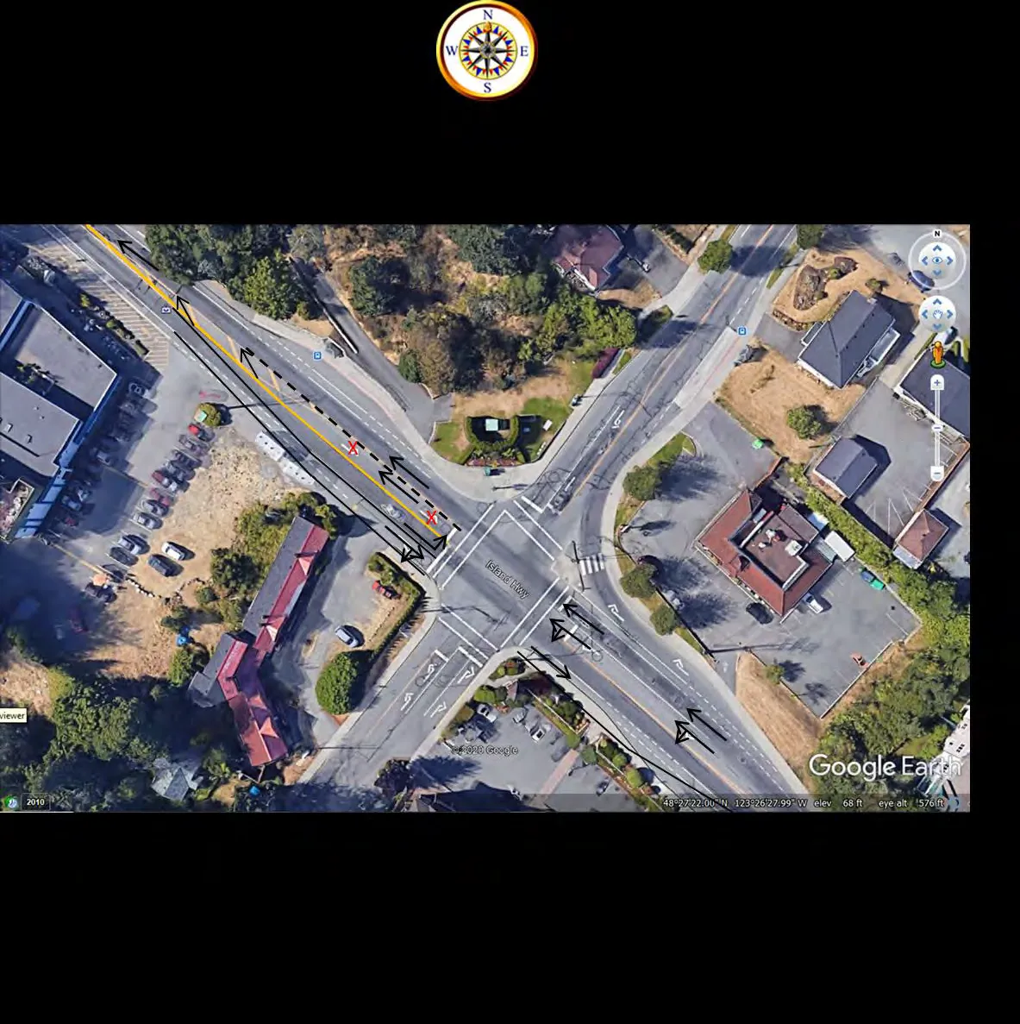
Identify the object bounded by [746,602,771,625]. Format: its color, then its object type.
black car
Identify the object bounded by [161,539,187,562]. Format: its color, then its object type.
white car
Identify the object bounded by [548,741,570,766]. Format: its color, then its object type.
gray car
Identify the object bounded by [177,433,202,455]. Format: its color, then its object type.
gray car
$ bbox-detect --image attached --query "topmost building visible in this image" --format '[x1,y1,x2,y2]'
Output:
[552,224,624,297]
